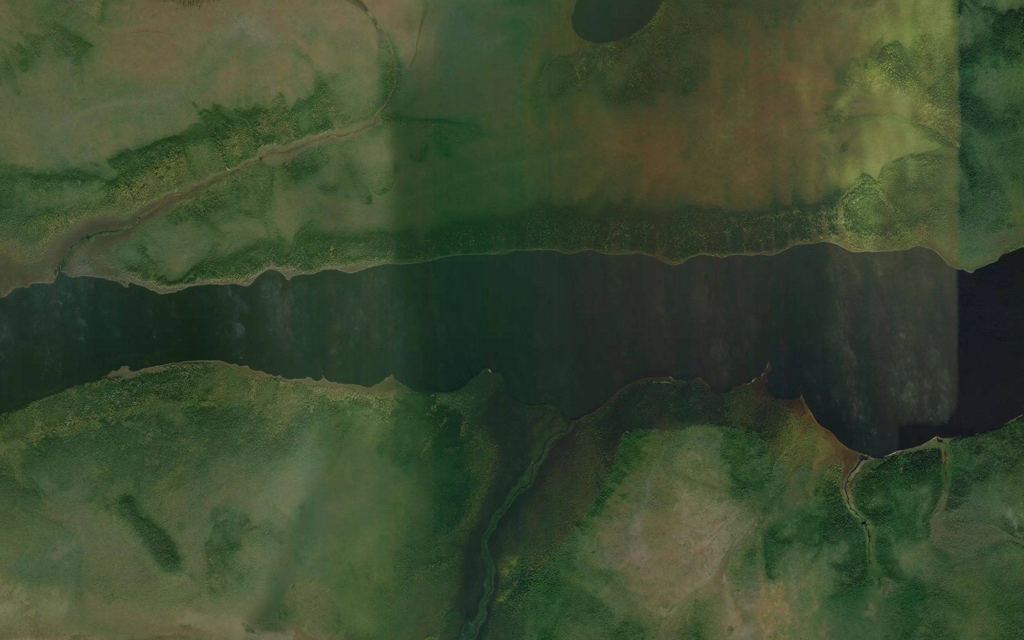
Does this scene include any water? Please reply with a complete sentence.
Yes, the picture does contain water.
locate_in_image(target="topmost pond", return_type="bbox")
[572,0,661,43]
